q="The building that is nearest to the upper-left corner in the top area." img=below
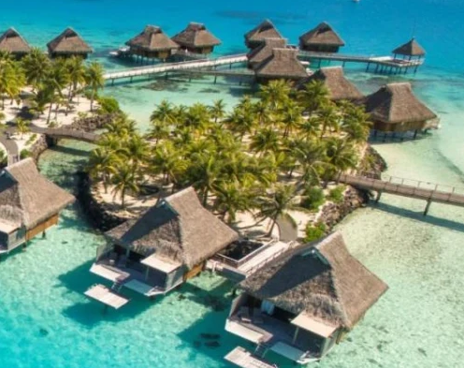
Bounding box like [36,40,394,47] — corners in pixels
[0,24,27,54]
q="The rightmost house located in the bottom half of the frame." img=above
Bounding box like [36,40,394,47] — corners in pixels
[217,231,389,368]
